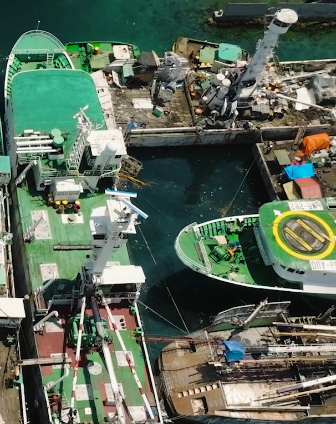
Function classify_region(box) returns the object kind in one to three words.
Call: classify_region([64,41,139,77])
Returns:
boat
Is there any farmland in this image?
No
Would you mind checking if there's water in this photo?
Yes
